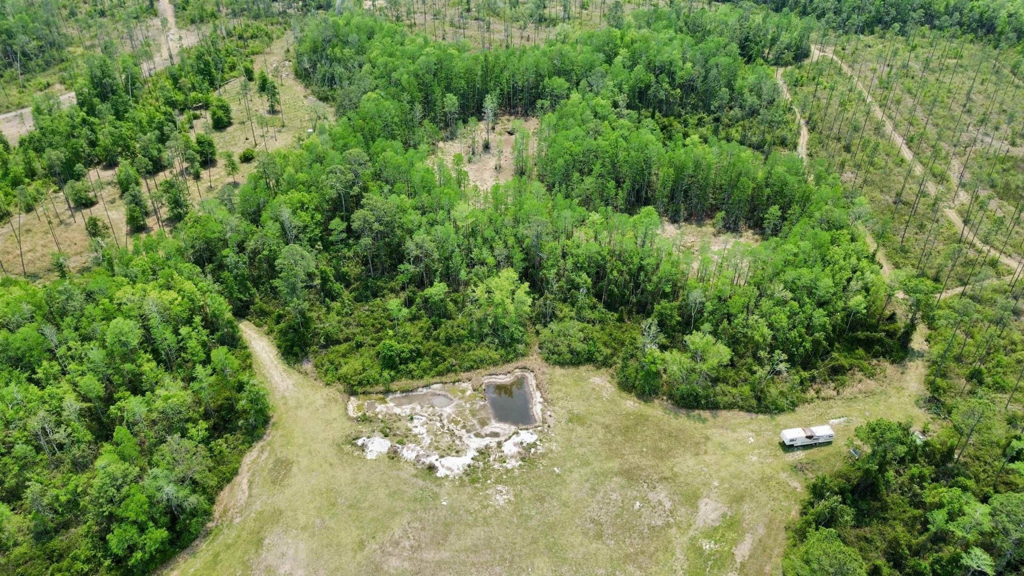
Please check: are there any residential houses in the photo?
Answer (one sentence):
No, there is no residential house in the image.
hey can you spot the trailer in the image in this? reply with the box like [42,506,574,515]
[781,423,836,446]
